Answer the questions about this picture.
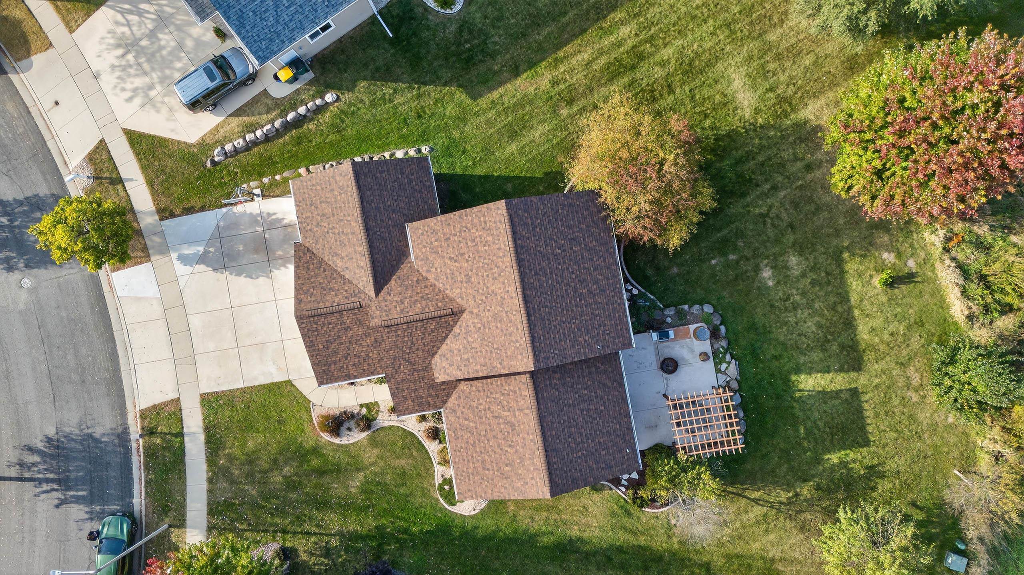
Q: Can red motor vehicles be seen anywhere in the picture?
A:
No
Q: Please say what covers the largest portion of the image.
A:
grass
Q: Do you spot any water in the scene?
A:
No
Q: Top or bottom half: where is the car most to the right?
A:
top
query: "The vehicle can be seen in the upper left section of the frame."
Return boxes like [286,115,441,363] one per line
[171,46,257,116]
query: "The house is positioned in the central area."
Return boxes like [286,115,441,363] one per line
[288,157,642,503]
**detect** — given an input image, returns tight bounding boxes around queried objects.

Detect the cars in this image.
[94,512,138,575]
[171,46,257,116]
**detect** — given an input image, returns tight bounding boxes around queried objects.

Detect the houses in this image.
[176,0,397,79]
[288,157,642,503]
